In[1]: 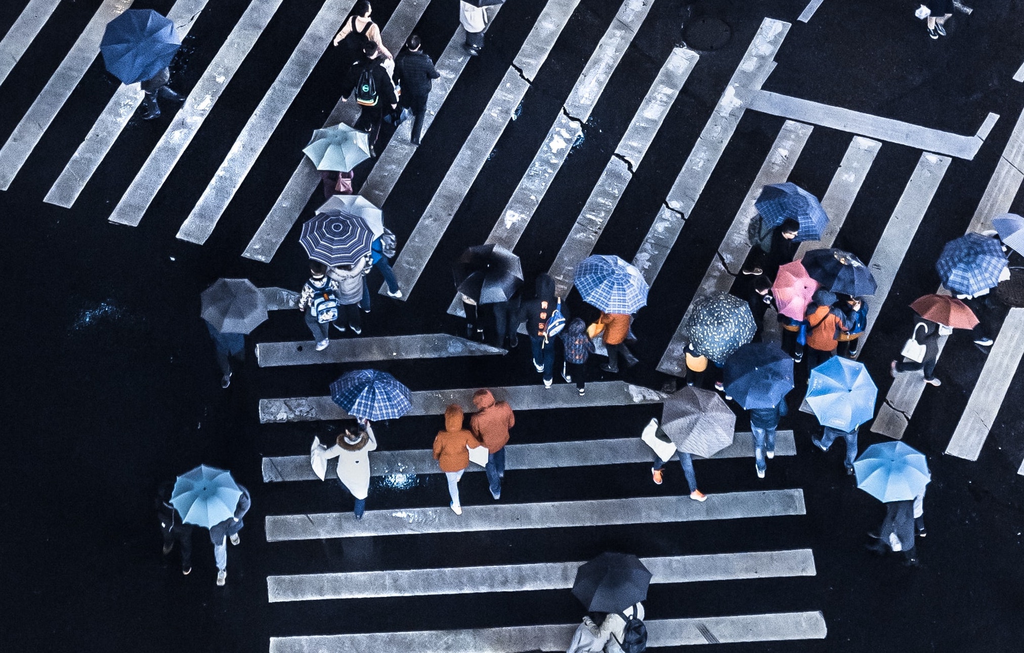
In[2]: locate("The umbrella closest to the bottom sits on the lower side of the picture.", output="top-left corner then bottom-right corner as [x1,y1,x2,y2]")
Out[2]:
[571,548,652,618]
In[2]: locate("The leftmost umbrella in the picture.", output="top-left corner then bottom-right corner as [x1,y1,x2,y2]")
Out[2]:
[99,10,184,85]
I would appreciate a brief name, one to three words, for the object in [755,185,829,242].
umbrella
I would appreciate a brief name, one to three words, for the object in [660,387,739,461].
umbrella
